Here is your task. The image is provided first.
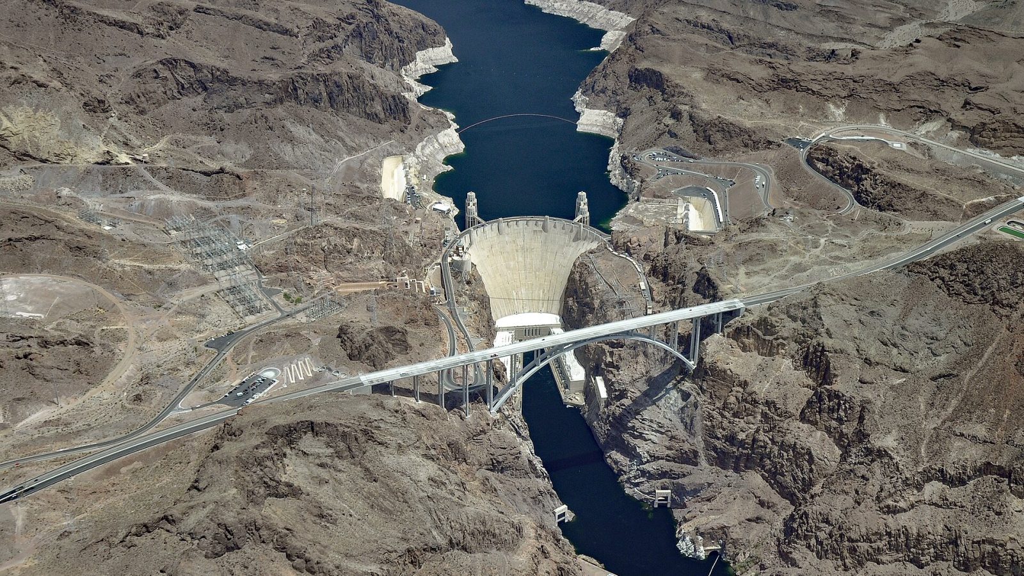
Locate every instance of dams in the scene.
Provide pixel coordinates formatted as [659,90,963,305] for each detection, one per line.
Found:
[447,215,620,323]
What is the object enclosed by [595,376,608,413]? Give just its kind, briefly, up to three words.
building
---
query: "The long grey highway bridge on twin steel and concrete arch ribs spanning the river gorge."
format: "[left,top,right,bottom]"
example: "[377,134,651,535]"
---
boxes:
[358,298,749,425]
